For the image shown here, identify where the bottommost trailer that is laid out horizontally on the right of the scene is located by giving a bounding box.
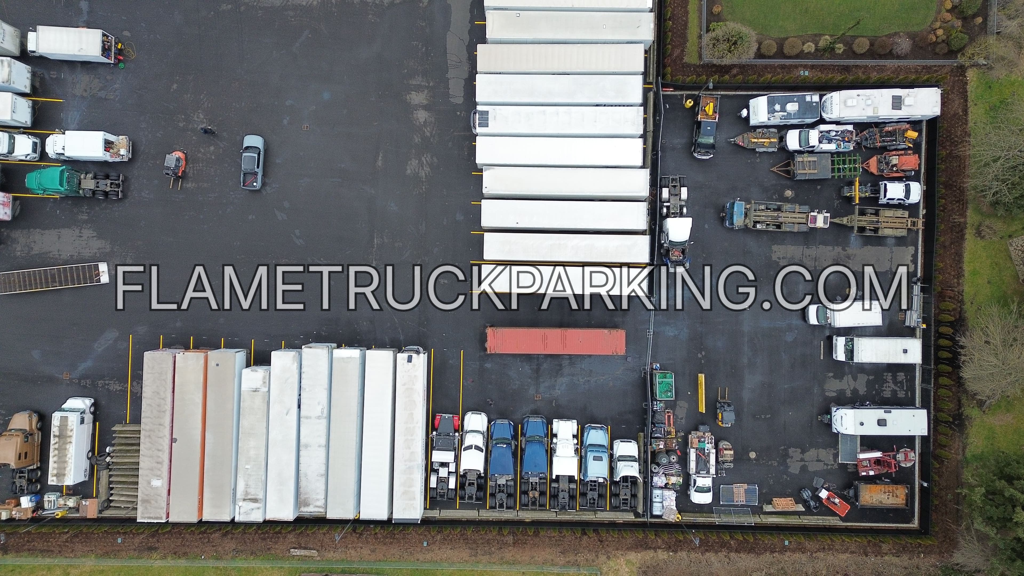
[840,478,911,509]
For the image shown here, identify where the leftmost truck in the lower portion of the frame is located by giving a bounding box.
[0,409,46,496]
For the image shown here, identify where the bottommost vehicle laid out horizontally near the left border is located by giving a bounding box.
[26,162,123,199]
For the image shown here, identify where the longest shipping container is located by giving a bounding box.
[486,326,625,354]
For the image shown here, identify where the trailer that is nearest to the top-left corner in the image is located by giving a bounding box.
[0,18,22,57]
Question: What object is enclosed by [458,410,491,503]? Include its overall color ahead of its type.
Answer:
white truck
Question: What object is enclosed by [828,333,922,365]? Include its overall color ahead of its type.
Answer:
white van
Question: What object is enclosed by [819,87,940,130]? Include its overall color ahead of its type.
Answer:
white camper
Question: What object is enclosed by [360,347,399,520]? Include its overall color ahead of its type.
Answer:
white trailer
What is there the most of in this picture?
paved ground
